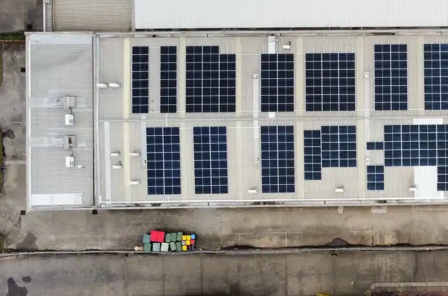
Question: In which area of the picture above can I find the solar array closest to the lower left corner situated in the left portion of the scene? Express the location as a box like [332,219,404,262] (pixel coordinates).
[145,126,181,194]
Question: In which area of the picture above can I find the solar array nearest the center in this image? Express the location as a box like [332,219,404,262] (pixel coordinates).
[193,125,228,194]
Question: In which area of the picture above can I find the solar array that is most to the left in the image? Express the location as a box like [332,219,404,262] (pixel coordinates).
[131,45,148,114]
